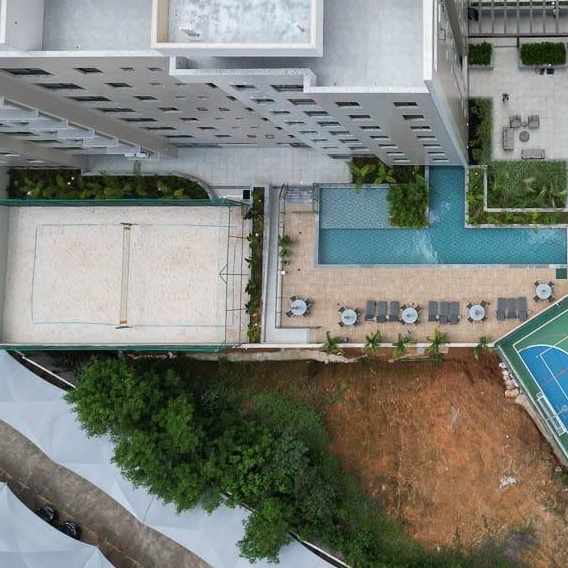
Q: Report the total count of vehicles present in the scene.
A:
2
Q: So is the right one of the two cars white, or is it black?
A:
black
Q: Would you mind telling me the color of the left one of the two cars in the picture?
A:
black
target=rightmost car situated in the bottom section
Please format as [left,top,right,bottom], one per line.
[59,514,88,540]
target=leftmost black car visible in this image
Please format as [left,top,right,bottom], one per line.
[33,496,63,526]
